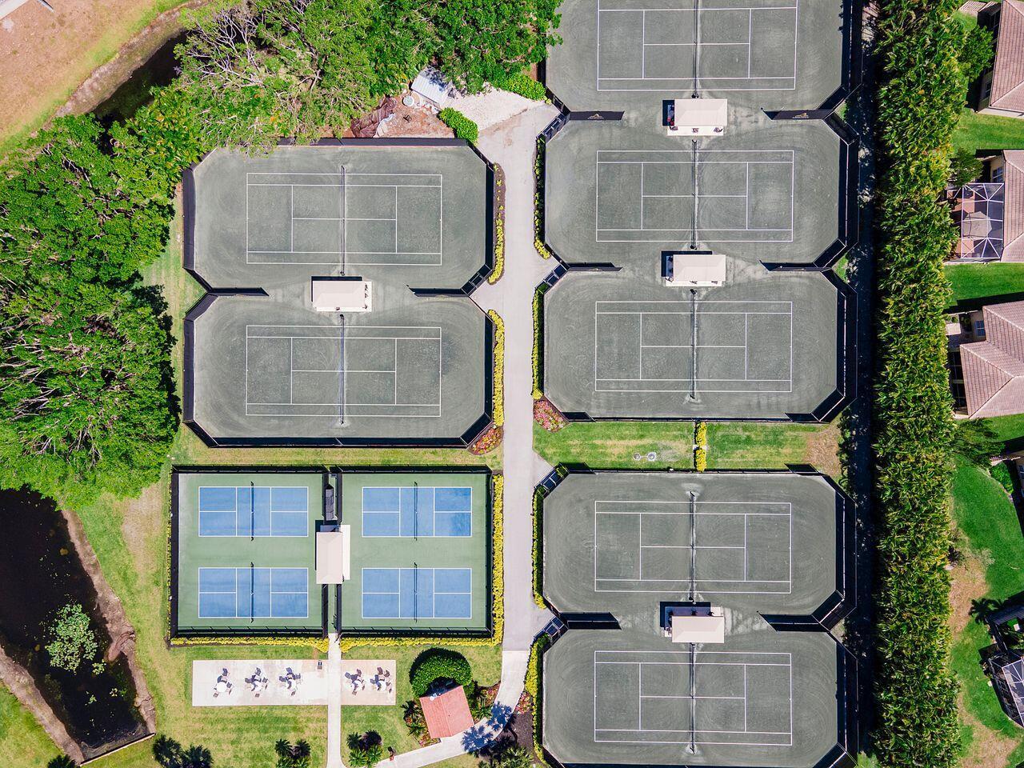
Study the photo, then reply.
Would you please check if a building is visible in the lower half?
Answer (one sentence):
Yes, a building is visible in the lower half.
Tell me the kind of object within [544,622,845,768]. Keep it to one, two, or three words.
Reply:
tennis court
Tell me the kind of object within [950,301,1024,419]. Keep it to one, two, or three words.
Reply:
house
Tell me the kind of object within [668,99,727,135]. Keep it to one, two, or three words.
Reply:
building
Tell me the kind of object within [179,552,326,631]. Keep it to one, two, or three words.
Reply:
sports court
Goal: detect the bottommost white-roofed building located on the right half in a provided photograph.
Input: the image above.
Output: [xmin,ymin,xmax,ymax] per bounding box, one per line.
[665,606,724,643]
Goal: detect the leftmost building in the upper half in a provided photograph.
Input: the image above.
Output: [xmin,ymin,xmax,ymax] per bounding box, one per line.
[313,280,372,312]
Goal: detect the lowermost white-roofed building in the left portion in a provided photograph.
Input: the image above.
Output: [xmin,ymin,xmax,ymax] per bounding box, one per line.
[316,525,350,584]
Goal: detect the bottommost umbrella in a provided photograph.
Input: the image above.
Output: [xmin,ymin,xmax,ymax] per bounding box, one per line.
[963,212,990,238]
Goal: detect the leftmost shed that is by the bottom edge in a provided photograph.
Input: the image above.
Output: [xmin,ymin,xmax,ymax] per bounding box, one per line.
[420,679,474,737]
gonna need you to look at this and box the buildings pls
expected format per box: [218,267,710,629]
[420,679,474,737]
[668,99,727,135]
[313,280,372,312]
[666,254,726,287]
[316,525,350,584]
[980,0,1024,118]
[665,606,724,643]
[328,487,338,523]
[950,301,1024,419]
[412,71,453,111]
[990,149,1024,262]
